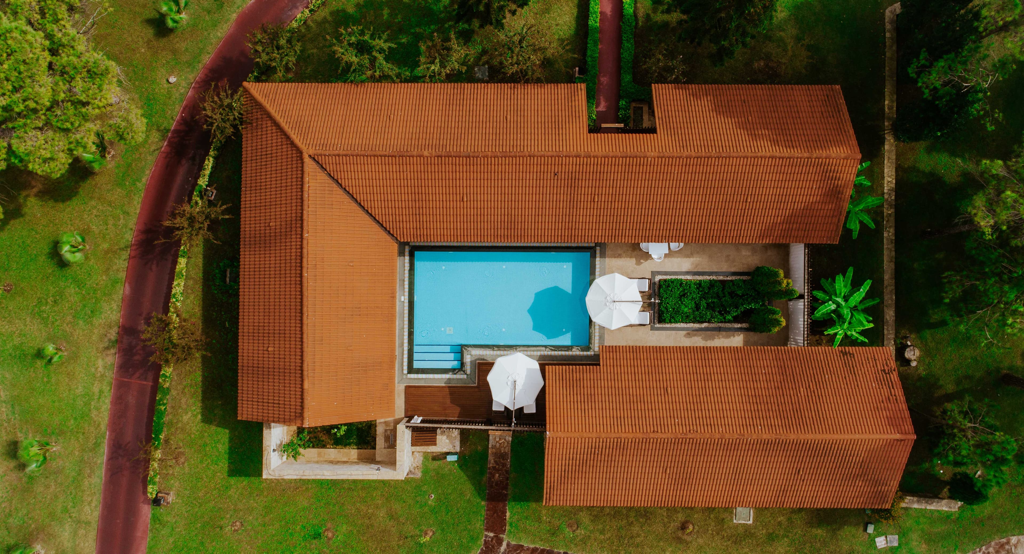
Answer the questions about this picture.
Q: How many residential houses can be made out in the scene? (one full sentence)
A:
The number of residential houses here is 2.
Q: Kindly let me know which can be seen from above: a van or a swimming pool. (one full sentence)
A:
I can see a swimming pool in this picture.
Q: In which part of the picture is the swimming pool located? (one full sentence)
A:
Look in the center portion of the view to spot the swimming pool.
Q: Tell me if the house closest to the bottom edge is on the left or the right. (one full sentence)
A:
The house closest to the bottom edge is on the right side of the image.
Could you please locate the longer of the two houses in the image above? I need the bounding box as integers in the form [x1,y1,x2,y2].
[237,81,865,429]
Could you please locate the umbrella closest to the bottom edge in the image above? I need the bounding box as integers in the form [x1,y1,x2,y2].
[486,350,544,428]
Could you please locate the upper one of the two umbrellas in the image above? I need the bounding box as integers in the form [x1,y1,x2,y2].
[584,272,662,330]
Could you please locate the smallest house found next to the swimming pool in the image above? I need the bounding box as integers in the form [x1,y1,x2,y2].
[544,345,919,510]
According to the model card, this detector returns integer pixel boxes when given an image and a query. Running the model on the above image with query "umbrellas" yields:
[486,350,544,428]
[584,272,662,330]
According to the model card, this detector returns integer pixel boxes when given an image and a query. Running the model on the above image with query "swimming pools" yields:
[414,252,591,369]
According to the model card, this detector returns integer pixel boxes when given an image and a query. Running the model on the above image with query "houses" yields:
[237,81,865,429]
[544,345,919,510]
